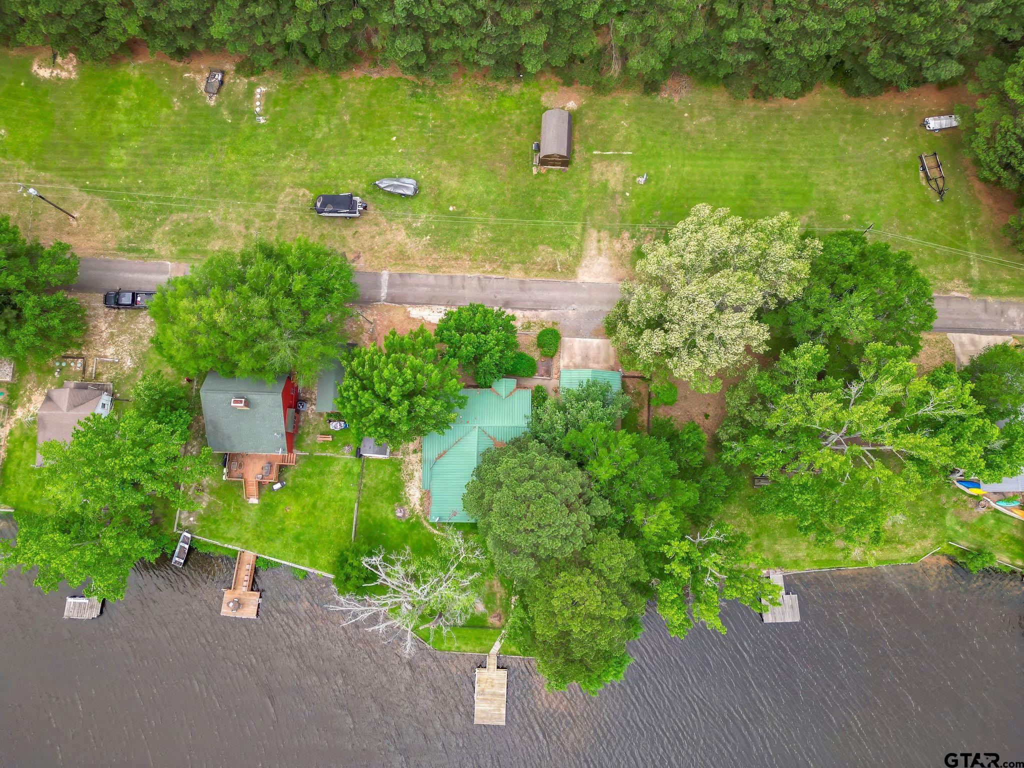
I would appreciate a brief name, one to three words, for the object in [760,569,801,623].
pier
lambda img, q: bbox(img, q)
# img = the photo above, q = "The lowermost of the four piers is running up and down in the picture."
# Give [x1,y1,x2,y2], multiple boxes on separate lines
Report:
[472,654,507,726]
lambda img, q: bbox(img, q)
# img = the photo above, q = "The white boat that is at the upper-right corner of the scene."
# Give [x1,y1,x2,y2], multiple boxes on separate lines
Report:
[919,114,964,134]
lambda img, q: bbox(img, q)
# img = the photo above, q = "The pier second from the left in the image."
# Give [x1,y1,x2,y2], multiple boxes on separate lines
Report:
[219,551,265,619]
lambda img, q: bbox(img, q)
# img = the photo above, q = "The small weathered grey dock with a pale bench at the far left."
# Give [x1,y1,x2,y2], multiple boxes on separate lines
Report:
[63,598,107,619]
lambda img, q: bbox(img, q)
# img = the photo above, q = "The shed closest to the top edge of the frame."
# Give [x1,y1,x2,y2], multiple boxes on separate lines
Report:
[539,109,573,170]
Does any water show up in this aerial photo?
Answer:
Yes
